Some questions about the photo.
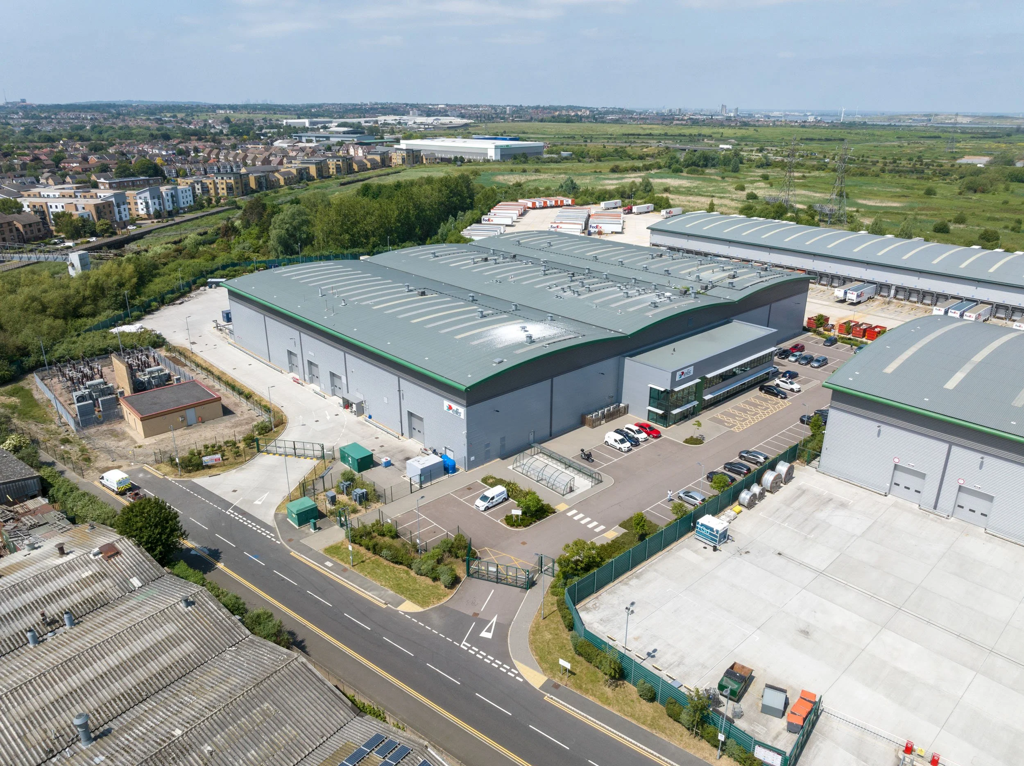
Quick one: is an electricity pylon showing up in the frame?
Yes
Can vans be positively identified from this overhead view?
Yes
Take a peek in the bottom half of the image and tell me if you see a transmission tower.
No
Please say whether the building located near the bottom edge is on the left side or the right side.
left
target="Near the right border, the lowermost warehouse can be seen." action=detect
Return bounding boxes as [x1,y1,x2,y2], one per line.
[815,315,1024,542]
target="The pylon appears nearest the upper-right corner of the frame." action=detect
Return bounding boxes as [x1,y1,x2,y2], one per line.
[944,112,963,152]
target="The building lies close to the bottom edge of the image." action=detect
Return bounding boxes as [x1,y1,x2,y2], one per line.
[0,521,469,766]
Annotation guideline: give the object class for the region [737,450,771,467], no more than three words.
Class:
car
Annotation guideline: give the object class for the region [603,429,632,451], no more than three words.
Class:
vehicle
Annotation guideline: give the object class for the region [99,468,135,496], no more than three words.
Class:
van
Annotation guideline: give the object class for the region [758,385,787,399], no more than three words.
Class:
car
